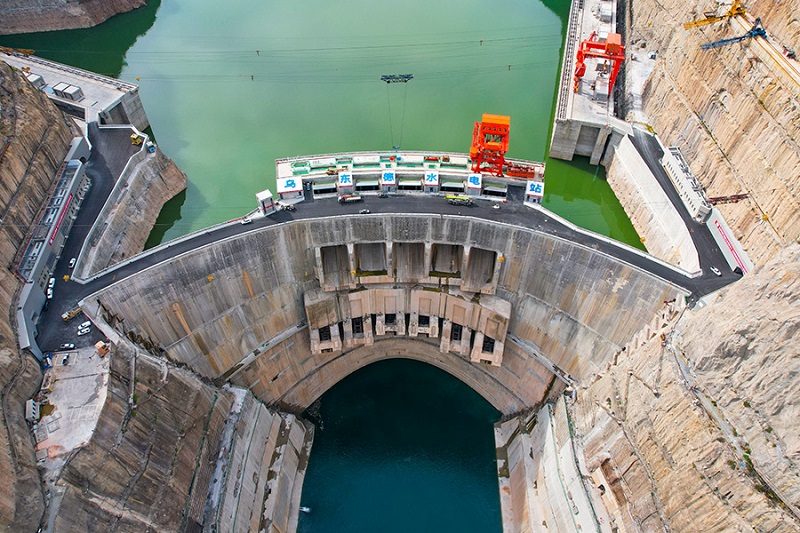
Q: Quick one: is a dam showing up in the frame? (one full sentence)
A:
Yes, you can see a dam in this photo.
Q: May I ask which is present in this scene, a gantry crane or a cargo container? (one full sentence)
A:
Of the two, only a gantry crane appears.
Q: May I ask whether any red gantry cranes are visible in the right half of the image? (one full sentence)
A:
Yes, a red gantry crane appears in the right half of the image.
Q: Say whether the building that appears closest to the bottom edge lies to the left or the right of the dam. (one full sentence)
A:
In the image, the building that appears closest to the bottom edge sits on the left side of the dam.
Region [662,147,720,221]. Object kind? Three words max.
building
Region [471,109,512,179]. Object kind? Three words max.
container crane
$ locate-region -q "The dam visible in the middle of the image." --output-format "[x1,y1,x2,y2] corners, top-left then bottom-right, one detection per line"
[66,149,709,419]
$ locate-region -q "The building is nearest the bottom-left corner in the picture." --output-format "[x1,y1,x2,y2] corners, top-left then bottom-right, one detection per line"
[16,400,41,425]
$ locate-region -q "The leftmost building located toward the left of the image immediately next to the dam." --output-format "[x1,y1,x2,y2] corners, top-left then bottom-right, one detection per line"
[5,163,88,293]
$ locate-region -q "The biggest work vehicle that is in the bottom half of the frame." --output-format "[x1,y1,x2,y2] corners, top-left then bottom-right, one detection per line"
[89,338,109,356]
